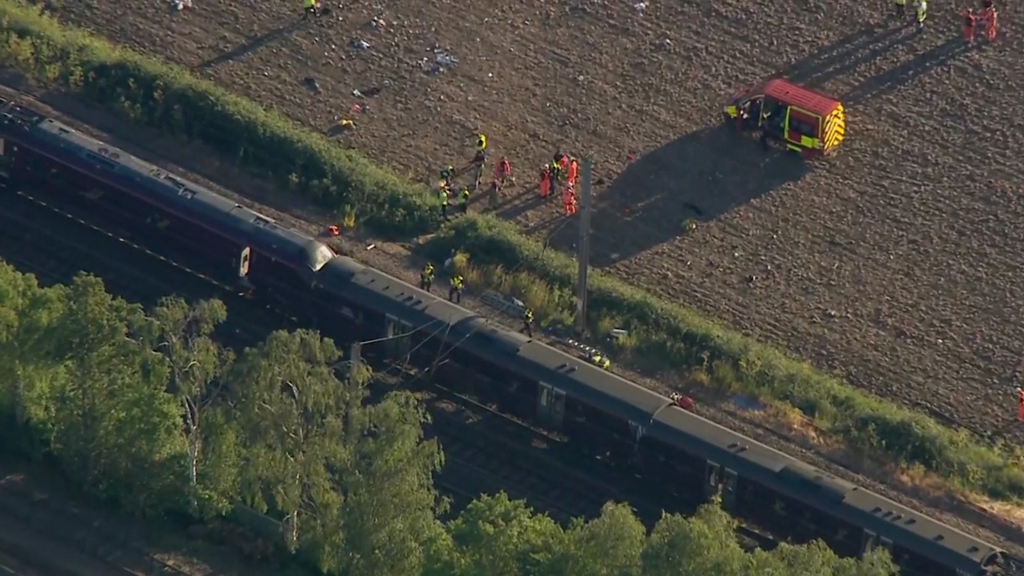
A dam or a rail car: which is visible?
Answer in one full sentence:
I can see a rail car in this picture.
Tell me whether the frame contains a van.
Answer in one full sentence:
Yes, there's a van down there.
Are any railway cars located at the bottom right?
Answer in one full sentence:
Yes, a railway car can be seen at the bottom right.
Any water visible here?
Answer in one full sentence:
No, the picture contains no water.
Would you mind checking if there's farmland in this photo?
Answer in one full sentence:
Yes, some farmland is visible.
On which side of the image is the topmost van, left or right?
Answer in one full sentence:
It is on the right.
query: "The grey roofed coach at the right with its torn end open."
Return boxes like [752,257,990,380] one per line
[642,404,1004,576]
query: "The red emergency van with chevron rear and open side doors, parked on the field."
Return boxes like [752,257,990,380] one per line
[721,78,844,151]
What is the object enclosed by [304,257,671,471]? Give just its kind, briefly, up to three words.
rail car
